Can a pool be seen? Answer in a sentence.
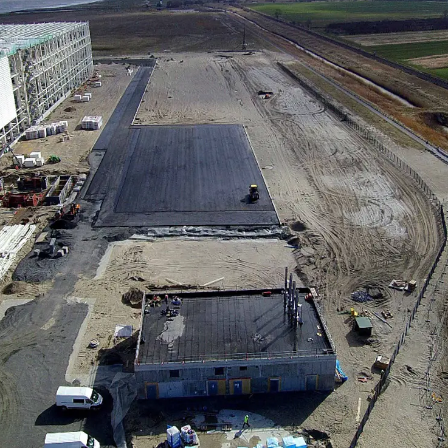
No, there is no pool in the image.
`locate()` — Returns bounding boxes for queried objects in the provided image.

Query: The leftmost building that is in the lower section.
[133,280,340,397]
